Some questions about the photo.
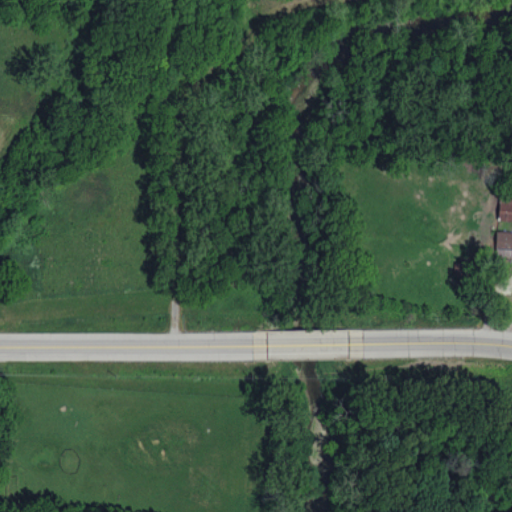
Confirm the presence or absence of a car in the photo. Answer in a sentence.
No, there isn't any car down there.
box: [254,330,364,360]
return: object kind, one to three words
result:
bridge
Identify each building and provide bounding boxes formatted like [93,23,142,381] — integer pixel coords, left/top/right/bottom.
[500,201,512,221]
[497,232,512,260]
